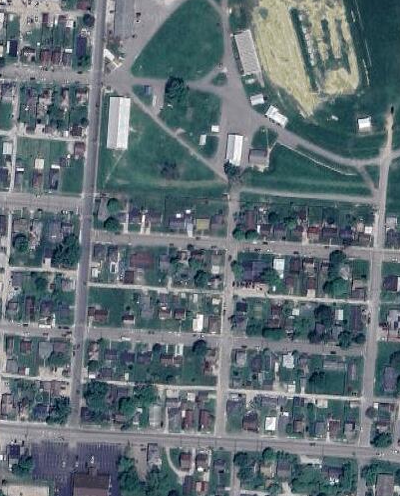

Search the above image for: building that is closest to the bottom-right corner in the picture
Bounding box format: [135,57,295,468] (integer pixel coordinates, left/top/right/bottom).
[376,473,397,496]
